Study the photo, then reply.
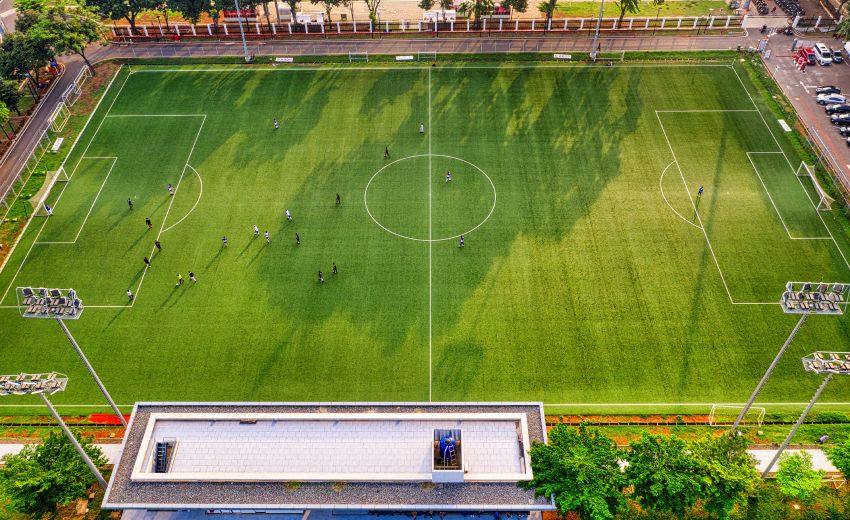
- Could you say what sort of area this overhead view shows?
sports ground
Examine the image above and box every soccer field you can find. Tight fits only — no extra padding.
[0,58,850,417]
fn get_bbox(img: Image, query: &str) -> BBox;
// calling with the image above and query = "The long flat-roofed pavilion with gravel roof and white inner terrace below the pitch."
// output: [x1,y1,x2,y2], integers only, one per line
[101,402,556,513]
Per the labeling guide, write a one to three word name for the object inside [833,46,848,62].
car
